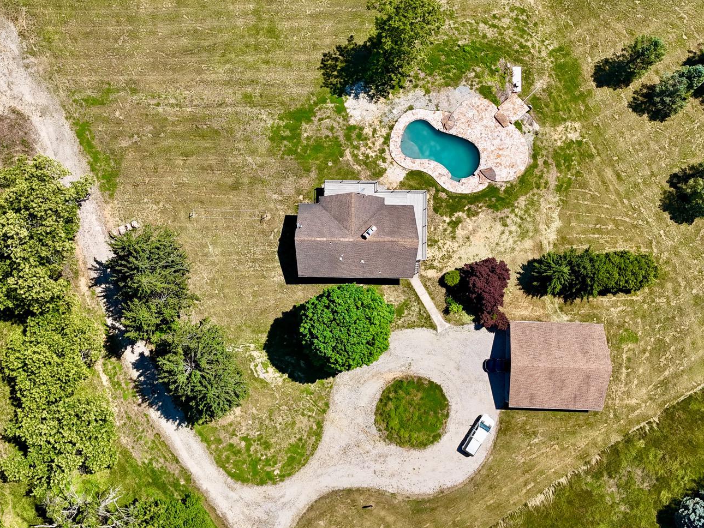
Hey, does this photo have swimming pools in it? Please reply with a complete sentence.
Yes, a swimming pool appears in the view.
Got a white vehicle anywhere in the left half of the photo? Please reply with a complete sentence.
No, no white vehicle is visible in the left half of the photo.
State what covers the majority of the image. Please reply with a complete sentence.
The bulk of the photo consists of grass.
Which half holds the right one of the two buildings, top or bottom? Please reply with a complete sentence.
It is in the bottom half that the right one of the two buildings appears.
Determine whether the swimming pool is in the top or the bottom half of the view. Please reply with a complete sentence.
Seen from above, the swimming pool lies in the top half of the view.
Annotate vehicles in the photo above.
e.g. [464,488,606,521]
[482,359,511,374]
[461,413,492,458]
